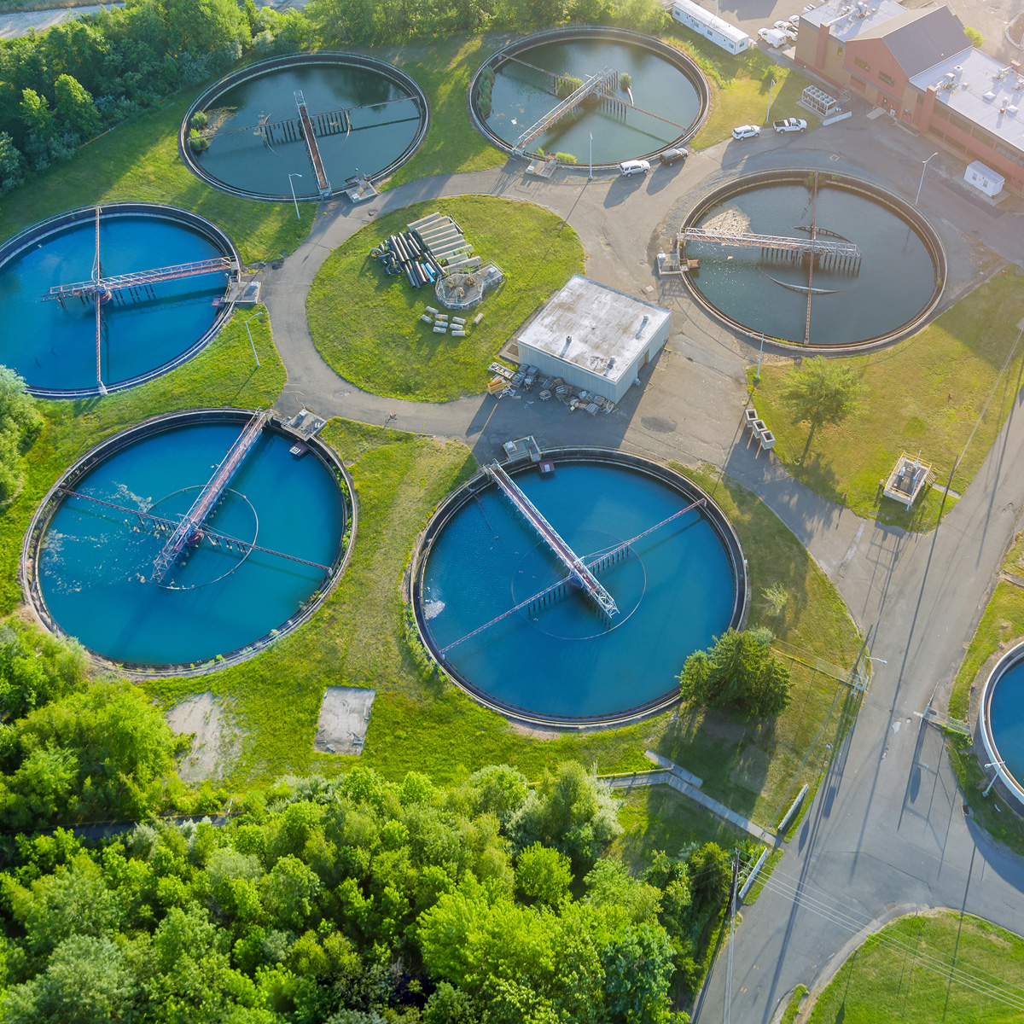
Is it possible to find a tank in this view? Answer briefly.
Yes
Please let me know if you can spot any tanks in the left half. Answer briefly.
Yes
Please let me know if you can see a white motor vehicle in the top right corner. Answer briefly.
Yes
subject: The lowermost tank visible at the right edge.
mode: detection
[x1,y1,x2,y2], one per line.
[979,646,1024,824]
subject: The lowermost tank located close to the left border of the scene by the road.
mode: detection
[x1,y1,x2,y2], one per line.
[20,404,358,678]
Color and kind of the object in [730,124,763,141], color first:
white car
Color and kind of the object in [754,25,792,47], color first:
white truck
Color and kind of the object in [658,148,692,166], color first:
gray car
